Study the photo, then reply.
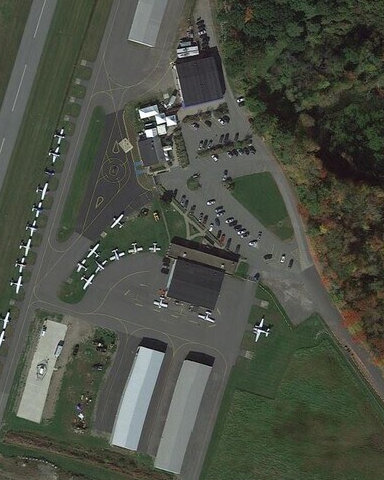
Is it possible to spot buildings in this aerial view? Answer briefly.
Yes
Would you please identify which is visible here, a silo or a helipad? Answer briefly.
helipad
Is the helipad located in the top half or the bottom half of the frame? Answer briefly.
bottom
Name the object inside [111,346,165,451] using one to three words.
hangar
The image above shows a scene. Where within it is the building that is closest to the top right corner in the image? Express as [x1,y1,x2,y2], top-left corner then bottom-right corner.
[174,57,222,106]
